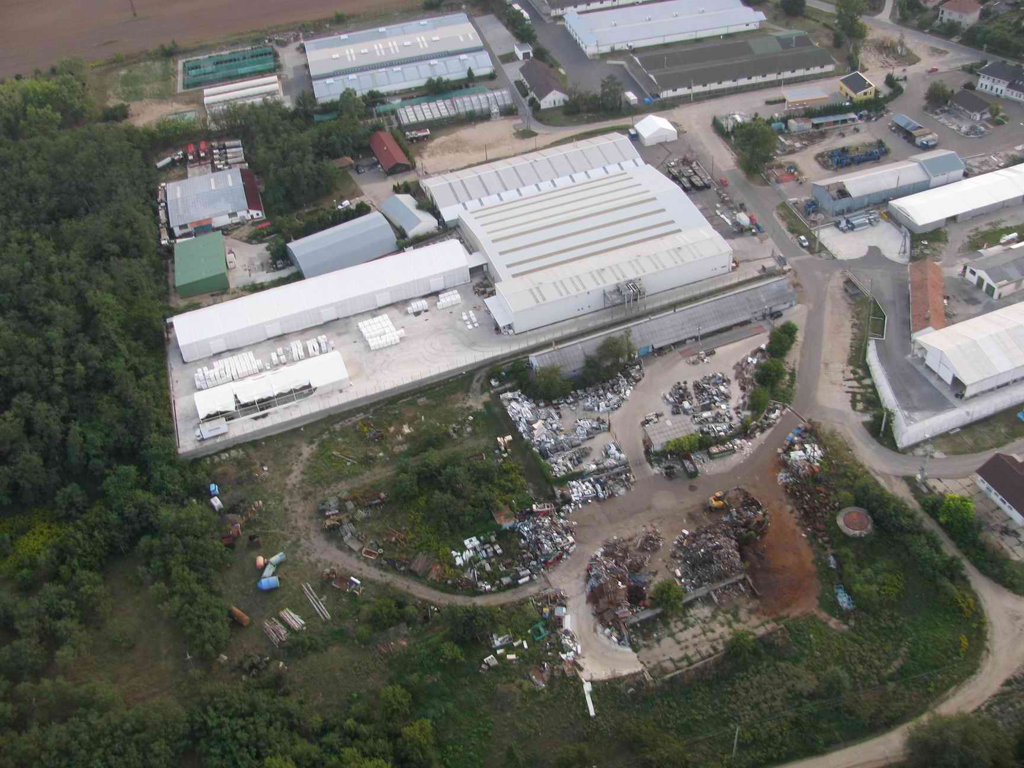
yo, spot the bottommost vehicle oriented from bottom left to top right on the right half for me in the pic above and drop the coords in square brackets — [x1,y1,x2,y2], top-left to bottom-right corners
[706,482,738,512]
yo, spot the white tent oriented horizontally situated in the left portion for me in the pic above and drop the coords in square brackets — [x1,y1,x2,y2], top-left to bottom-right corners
[195,352,348,425]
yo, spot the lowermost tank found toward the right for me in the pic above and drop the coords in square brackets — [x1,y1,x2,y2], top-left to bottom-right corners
[833,506,875,538]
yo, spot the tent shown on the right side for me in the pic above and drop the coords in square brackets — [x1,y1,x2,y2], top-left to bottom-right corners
[633,112,676,146]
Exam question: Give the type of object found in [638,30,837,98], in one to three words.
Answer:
building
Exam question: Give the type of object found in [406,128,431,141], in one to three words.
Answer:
vehicle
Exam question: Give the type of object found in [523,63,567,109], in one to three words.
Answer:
house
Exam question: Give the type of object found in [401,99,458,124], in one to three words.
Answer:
greenhouse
